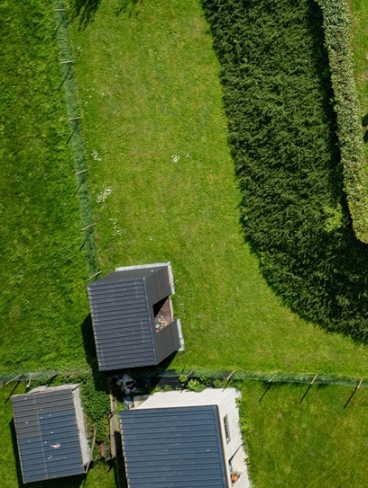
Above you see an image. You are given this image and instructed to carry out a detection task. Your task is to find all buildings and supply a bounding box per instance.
[10,383,97,483]
[120,390,251,488]
[87,267,186,370]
